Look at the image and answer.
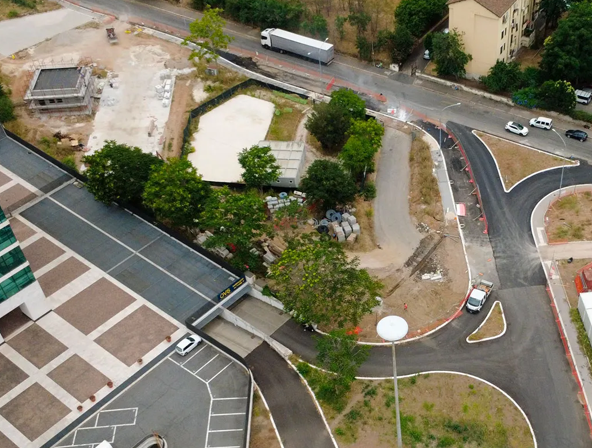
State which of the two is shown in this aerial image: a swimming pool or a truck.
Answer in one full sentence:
The one in the frame is a truck.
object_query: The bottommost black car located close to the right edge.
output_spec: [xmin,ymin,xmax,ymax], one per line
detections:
[566,129,588,142]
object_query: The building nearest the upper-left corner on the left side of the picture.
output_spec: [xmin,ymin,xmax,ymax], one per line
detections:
[15,56,102,117]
